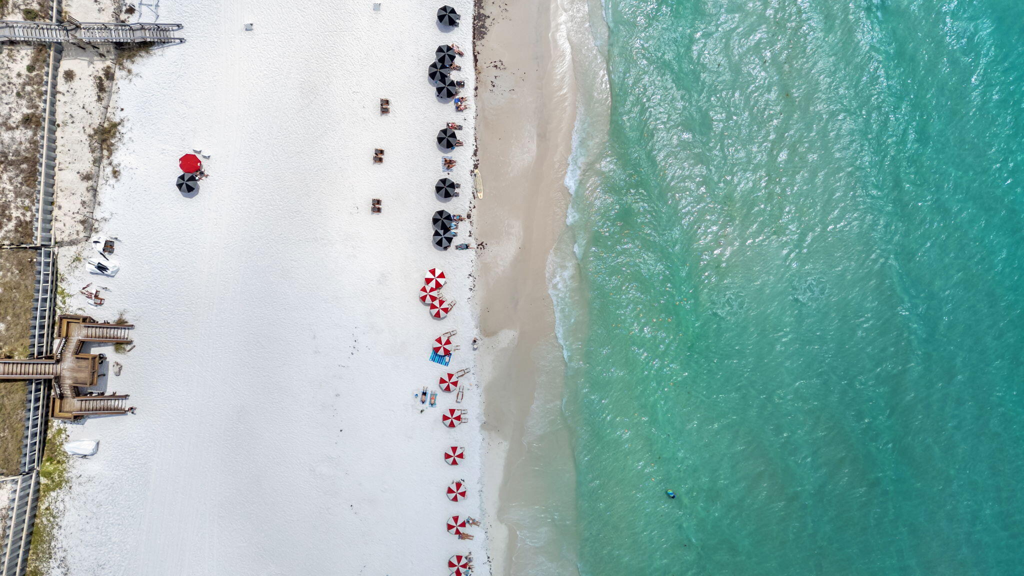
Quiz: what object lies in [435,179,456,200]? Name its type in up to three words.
umbrella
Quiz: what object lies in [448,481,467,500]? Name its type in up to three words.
umbrella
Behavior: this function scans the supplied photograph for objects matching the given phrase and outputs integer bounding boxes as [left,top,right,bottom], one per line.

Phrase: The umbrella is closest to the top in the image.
[437,7,458,29]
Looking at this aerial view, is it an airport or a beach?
beach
